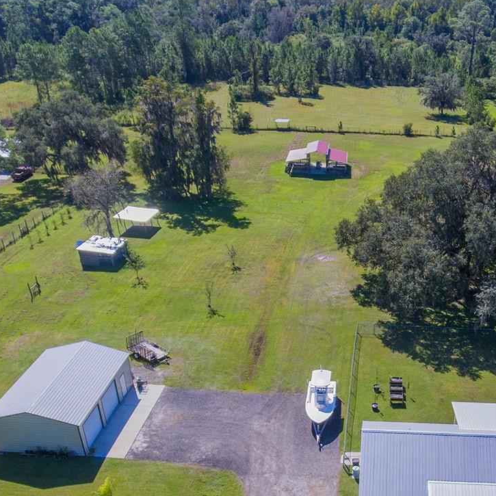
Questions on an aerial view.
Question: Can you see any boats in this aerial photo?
Yes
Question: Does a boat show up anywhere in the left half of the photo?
No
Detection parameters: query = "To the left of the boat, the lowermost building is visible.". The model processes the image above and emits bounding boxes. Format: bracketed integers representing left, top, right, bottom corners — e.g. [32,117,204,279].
[0,342,133,454]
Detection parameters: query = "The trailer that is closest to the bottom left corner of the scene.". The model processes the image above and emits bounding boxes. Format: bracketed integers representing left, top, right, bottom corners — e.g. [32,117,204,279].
[124,330,169,369]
